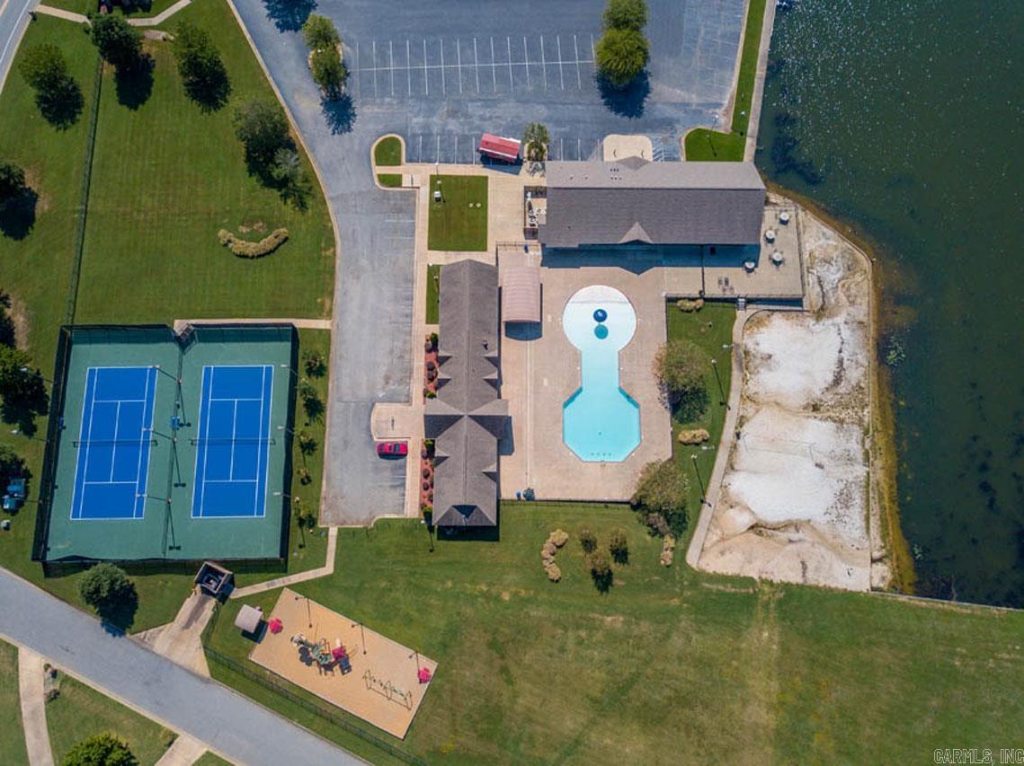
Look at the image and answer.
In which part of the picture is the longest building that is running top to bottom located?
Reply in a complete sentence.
You can find the longest building that is running top to bottom in the center area of the picture.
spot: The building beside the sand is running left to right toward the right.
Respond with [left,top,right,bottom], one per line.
[538,155,766,249]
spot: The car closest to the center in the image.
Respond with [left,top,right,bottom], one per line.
[377,442,408,456]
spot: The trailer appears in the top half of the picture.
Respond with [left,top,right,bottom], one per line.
[476,133,520,161]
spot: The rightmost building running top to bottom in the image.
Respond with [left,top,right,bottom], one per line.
[424,259,508,533]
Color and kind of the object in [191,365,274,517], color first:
blue tennis court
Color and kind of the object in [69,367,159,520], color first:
blue tennis court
